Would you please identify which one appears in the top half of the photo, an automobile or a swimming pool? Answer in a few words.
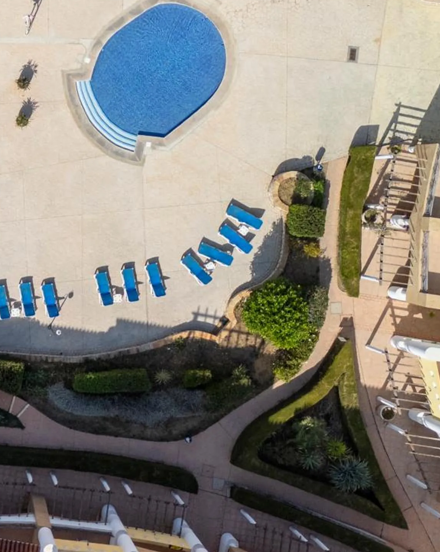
swimming pool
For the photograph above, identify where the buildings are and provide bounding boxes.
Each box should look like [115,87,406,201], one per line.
[374,328,440,458]
[373,144,440,310]
[0,484,208,552]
